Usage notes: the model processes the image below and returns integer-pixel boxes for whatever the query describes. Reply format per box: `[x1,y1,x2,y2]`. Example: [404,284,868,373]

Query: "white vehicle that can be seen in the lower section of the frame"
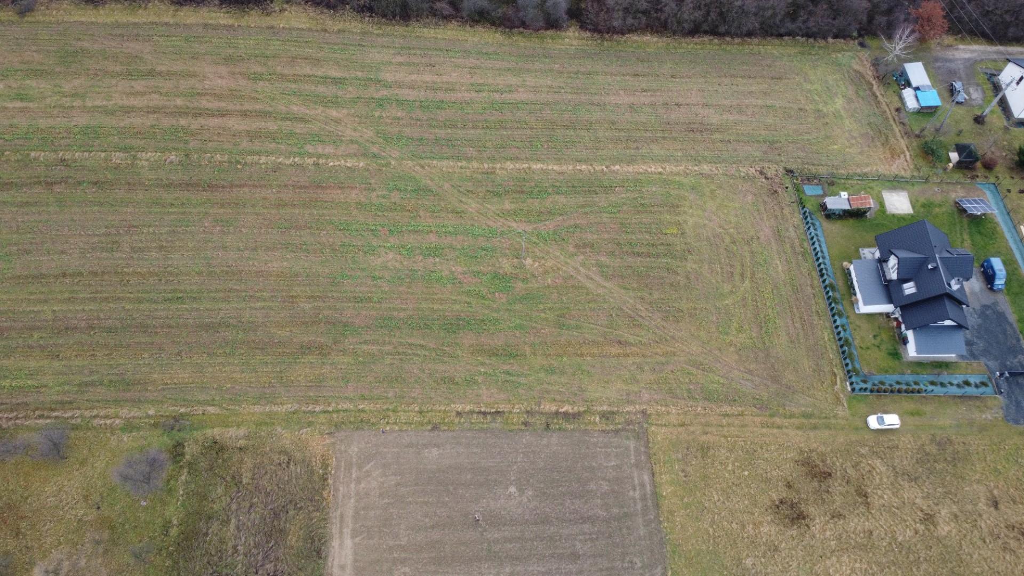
[868,413,904,429]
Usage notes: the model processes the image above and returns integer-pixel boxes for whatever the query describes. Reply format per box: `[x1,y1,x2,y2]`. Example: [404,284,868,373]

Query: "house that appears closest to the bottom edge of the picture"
[850,220,976,356]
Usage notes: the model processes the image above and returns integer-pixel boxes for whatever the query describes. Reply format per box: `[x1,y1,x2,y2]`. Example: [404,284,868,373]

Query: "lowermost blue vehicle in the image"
[982,257,1009,293]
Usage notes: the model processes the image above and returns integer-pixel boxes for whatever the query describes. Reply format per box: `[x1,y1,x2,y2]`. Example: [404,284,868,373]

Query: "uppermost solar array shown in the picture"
[956,198,997,220]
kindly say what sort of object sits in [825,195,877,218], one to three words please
shed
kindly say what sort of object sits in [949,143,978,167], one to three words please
building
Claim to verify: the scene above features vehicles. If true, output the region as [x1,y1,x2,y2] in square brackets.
[948,81,967,105]
[868,413,904,429]
[982,257,1009,293]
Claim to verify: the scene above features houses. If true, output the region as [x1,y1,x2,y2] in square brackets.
[850,220,976,356]
[1000,59,1024,117]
